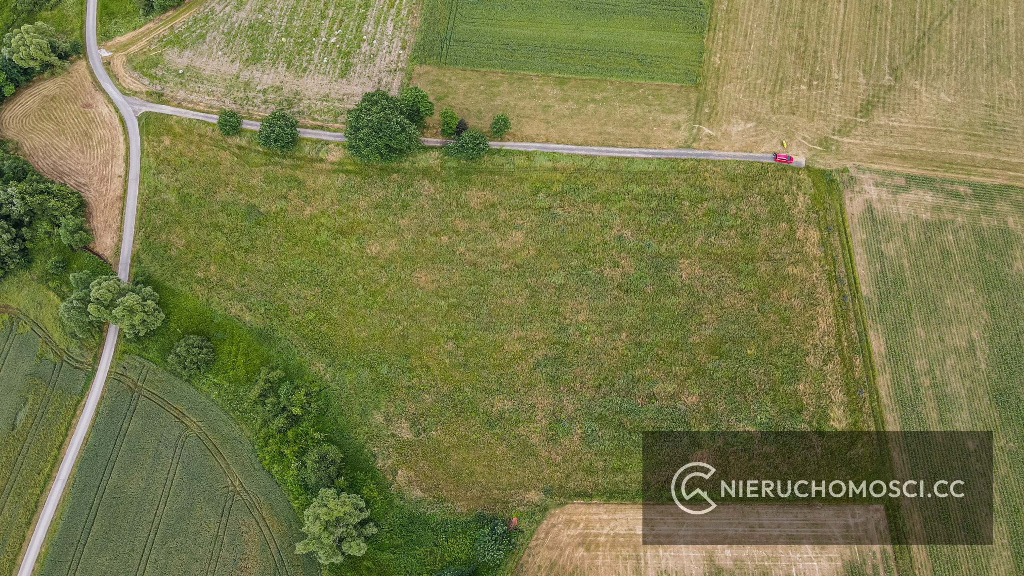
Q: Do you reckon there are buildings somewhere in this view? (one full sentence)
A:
No, the picture doesn't show any building.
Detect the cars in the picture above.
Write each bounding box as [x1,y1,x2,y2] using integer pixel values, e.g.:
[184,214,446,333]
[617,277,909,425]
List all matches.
[774,152,795,164]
